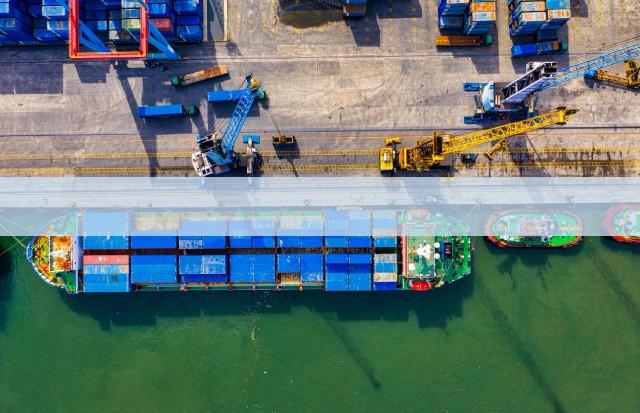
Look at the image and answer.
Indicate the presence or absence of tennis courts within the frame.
No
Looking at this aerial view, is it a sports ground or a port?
port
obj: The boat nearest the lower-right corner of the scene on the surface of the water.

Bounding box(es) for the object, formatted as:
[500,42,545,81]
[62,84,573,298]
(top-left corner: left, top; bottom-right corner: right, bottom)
[602,204,640,246]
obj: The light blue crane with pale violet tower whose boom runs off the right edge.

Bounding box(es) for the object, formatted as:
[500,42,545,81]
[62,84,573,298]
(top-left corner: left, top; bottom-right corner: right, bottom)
[463,40,640,125]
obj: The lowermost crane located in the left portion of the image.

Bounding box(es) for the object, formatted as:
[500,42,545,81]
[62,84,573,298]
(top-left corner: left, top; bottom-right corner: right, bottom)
[191,73,269,181]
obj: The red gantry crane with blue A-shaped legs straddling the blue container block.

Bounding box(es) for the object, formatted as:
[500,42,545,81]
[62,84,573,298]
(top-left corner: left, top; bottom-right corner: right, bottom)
[64,0,181,67]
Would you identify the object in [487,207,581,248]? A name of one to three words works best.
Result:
boat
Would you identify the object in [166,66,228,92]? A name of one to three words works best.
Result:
truck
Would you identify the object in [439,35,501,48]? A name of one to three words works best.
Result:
vehicle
